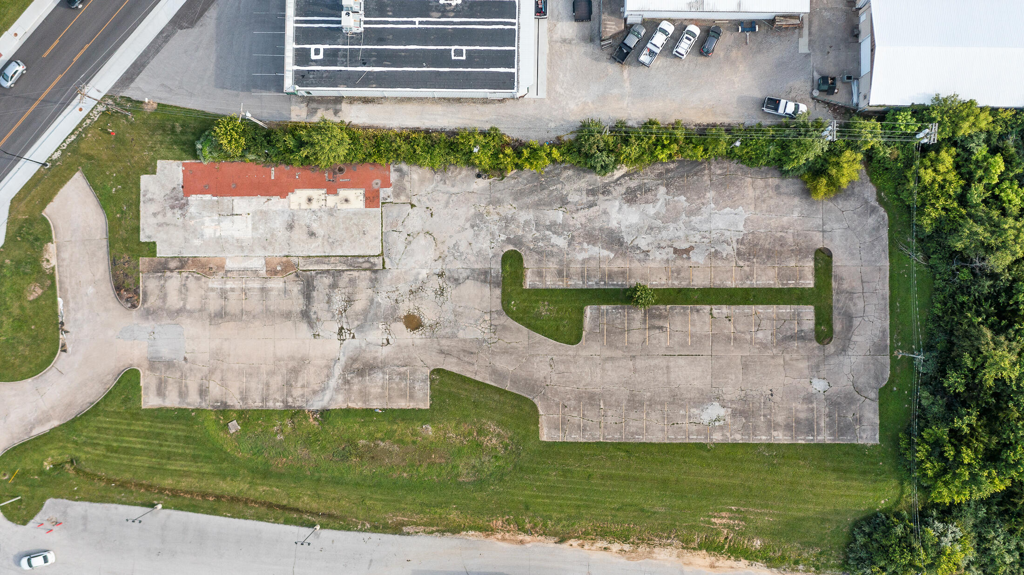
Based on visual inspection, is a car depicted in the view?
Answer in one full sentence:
Yes, the picture does show a car.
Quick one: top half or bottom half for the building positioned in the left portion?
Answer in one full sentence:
You can find the building positioned in the left portion in the top half.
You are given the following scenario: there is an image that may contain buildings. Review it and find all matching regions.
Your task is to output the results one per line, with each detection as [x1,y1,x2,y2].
[859,0,1024,115]
[284,0,535,102]
[624,0,810,19]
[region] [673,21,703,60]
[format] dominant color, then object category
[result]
white car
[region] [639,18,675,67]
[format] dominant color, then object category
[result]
white truck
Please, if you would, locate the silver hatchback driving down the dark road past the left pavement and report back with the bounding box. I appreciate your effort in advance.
[0,58,26,88]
